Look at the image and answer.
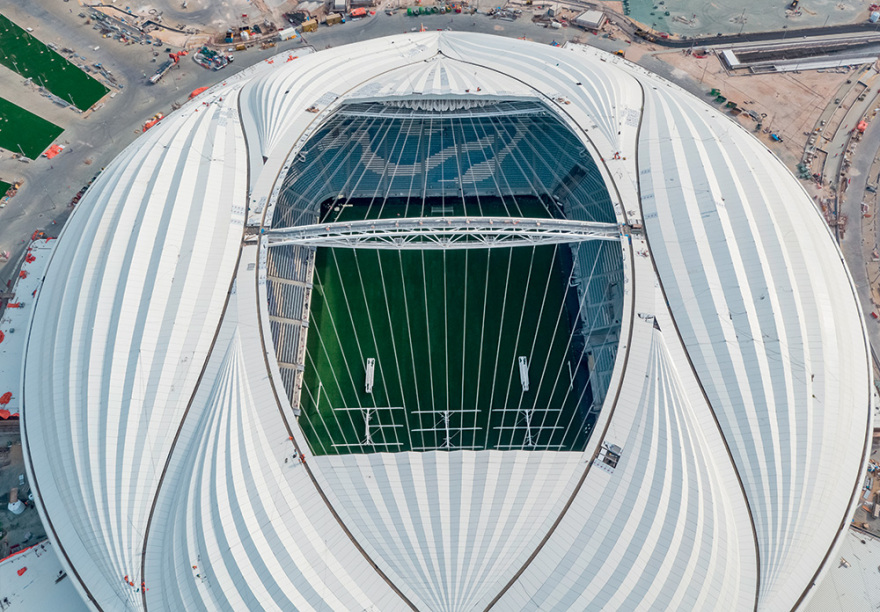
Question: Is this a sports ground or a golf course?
sports ground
